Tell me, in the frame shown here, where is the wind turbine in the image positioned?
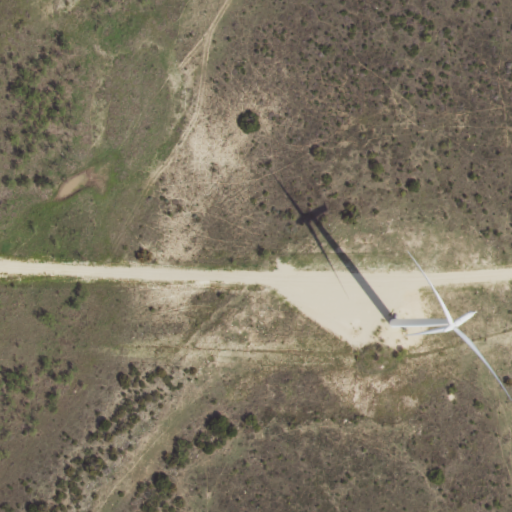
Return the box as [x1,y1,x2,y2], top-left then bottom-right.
[388,256,512,400]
